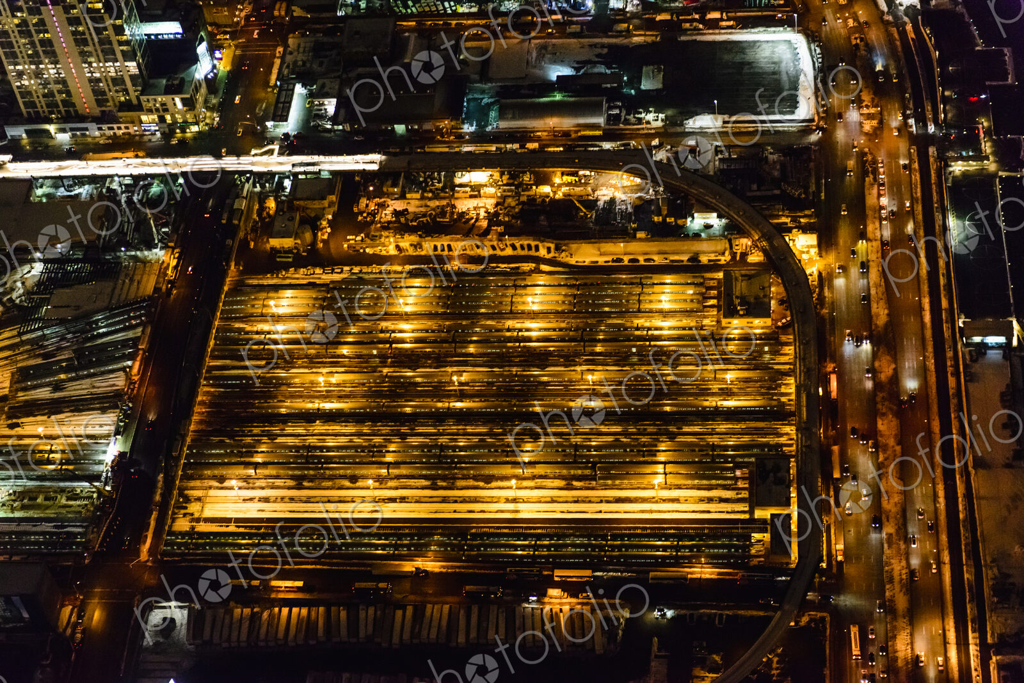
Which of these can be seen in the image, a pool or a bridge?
bridge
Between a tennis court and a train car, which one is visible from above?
train car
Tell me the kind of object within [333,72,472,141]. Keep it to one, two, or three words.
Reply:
building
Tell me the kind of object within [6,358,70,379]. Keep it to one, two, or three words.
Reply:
rail car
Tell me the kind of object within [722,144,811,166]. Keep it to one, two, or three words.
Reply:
building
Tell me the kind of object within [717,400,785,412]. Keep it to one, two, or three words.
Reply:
rail car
